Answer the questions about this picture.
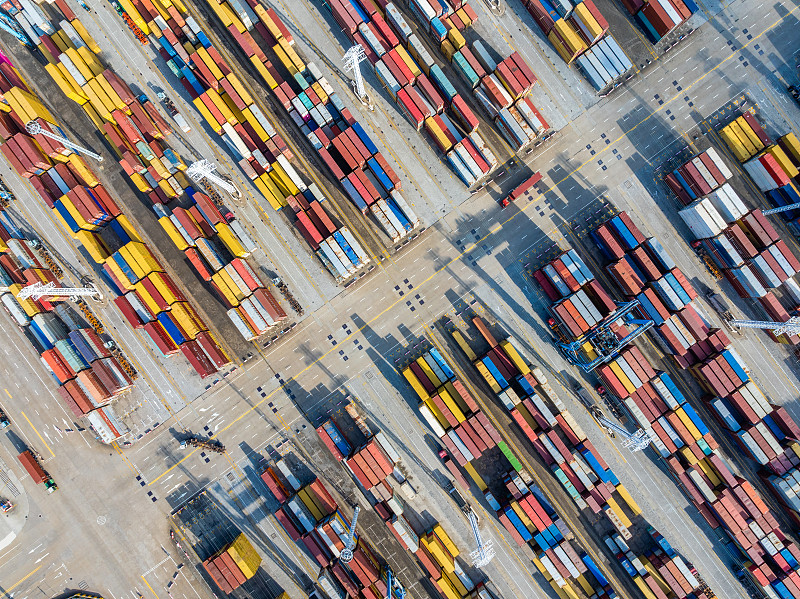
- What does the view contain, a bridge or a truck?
truck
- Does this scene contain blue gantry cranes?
Yes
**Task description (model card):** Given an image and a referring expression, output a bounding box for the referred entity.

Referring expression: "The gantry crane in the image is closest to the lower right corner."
[555,298,658,372]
